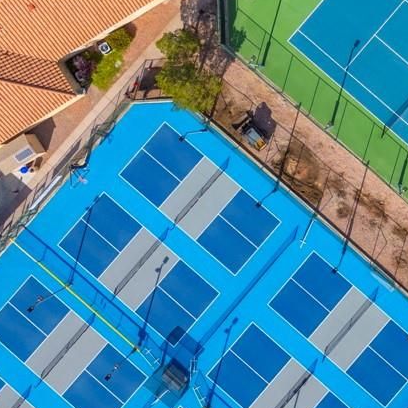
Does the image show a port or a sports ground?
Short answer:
sports ground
